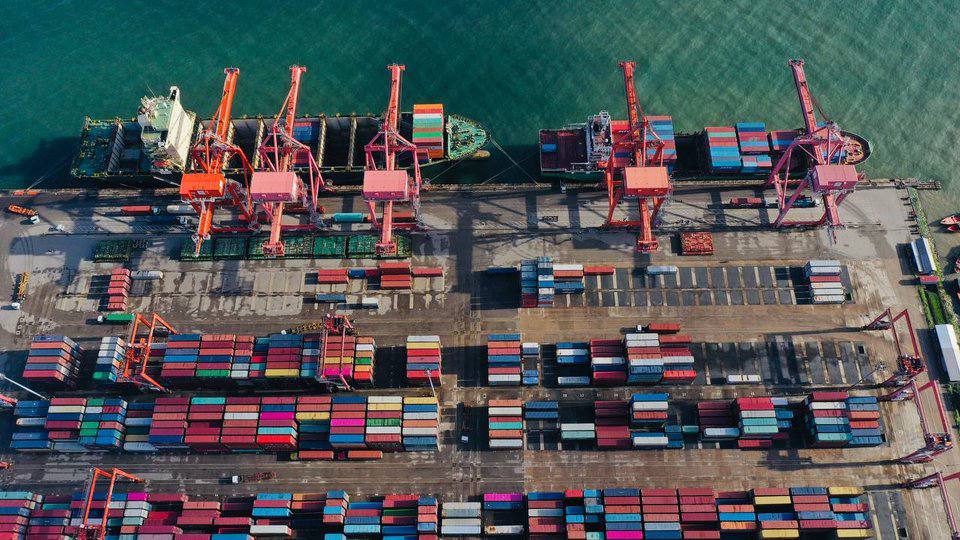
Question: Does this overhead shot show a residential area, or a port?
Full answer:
The picture captures a port.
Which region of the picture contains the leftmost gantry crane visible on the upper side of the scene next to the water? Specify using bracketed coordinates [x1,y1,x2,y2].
[172,64,267,252]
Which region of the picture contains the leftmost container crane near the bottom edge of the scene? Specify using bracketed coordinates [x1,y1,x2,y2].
[73,467,150,540]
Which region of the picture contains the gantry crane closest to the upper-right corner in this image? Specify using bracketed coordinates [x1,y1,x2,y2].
[764,60,871,248]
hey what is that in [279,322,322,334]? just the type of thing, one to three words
vehicle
